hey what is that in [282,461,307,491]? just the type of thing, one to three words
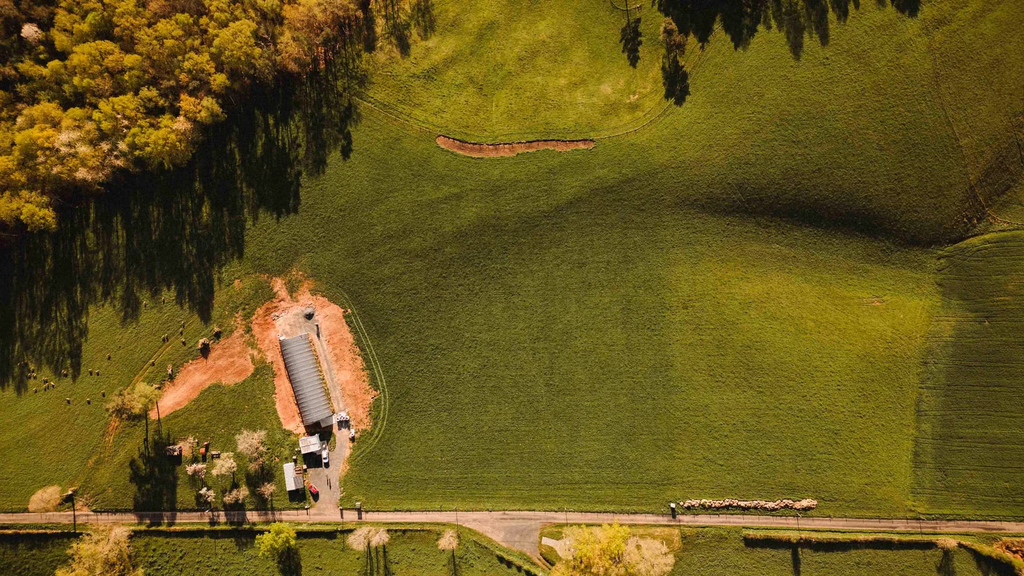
shed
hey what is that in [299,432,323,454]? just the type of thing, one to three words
shed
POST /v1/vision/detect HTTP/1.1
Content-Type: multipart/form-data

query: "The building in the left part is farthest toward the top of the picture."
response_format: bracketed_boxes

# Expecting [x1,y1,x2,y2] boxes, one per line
[279,333,336,426]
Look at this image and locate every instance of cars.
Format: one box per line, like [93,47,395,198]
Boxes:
[307,484,319,496]
[323,451,331,464]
